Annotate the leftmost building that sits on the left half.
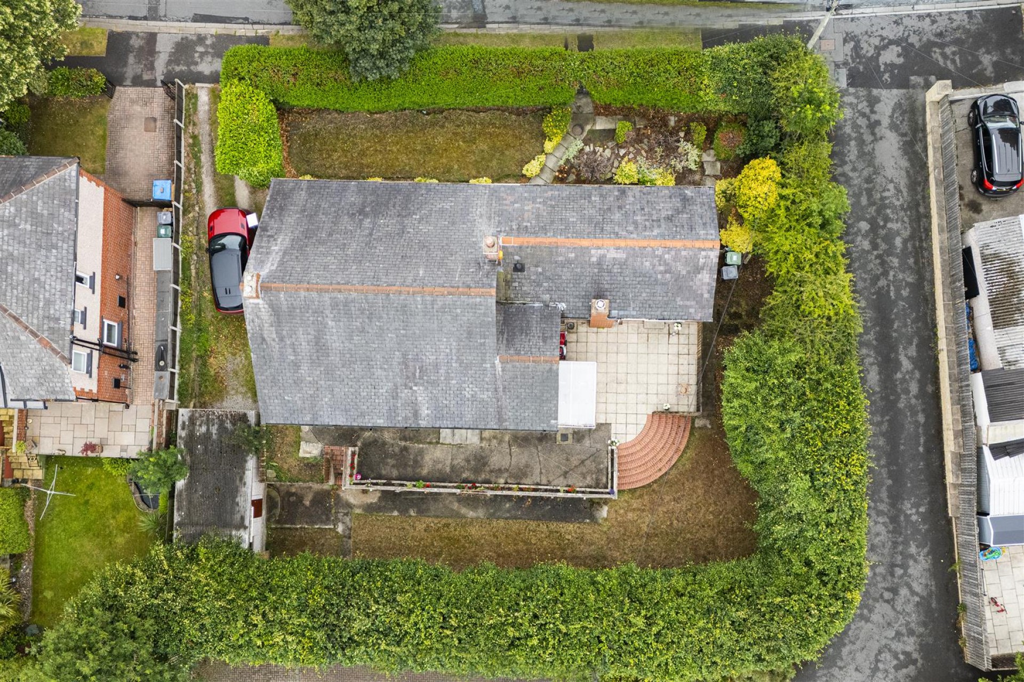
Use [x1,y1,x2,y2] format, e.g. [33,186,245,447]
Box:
[0,155,136,408]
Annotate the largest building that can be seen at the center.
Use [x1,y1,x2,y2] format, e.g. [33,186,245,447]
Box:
[240,178,720,433]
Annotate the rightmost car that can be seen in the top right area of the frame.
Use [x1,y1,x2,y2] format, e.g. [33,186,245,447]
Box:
[967,95,1024,199]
